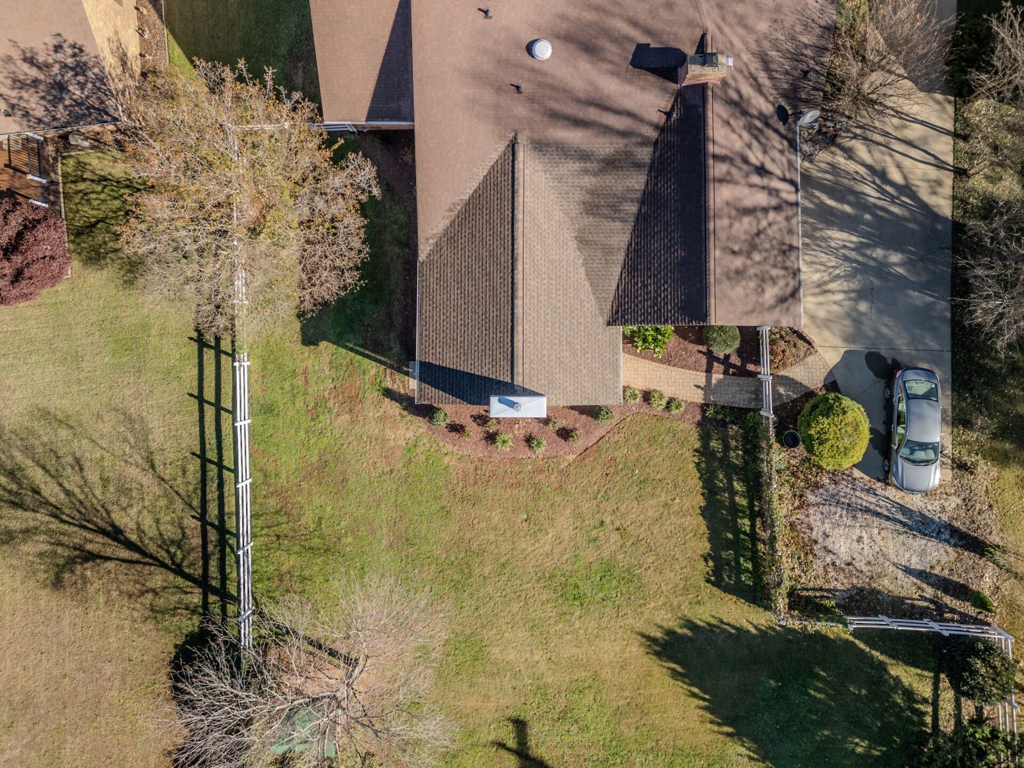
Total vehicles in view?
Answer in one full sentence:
I count just 1 vehicle.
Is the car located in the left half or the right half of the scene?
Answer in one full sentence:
It is on the right.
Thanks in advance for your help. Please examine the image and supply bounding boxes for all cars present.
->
[882,367,951,495]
